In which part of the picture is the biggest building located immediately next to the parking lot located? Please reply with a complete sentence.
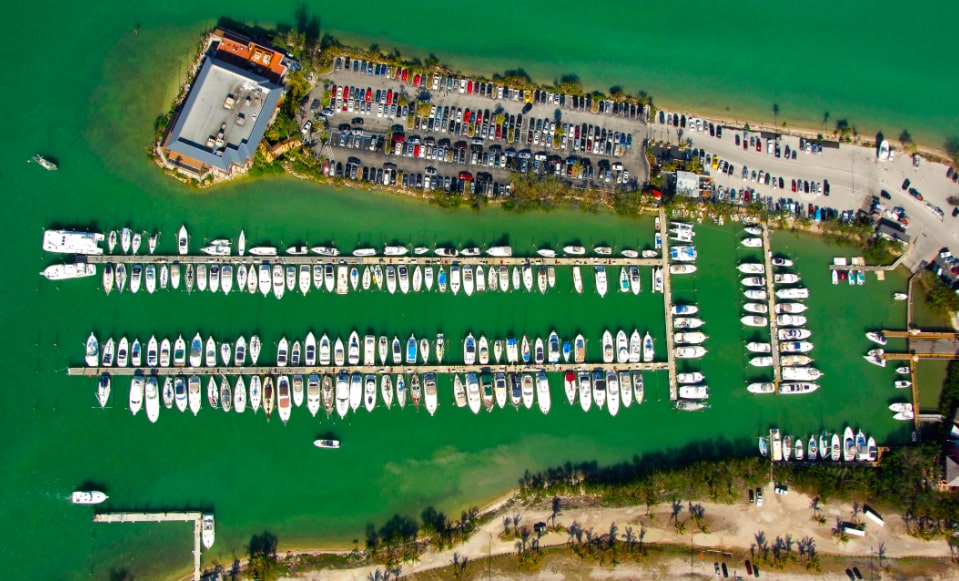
Look in the top left portion of the view to spot the biggest building located immediately next to the parking lot.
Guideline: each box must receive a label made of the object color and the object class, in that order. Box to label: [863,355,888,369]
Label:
white boat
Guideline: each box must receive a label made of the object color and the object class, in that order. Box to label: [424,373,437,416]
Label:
white boat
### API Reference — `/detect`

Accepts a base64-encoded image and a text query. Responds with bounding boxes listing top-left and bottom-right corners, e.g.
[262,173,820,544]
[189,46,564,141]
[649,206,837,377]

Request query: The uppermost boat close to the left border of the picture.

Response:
[33,154,58,171]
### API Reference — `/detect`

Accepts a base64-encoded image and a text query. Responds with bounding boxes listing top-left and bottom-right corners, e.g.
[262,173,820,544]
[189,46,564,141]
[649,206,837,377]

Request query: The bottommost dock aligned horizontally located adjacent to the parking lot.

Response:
[67,363,668,376]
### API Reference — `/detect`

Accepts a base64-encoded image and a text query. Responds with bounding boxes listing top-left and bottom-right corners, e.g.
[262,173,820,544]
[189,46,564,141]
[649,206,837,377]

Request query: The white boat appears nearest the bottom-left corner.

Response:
[71,492,107,505]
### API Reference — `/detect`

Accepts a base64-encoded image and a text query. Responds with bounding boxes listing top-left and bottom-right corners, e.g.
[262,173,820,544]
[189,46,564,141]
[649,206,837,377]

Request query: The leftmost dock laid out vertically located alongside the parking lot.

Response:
[658,206,677,400]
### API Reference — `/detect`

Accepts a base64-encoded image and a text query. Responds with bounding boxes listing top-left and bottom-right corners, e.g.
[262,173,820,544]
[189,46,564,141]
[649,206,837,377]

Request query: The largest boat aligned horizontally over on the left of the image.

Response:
[41,229,105,257]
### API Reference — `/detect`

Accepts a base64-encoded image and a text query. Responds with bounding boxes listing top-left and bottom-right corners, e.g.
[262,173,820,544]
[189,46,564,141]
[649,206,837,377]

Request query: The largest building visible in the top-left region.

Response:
[158,28,288,182]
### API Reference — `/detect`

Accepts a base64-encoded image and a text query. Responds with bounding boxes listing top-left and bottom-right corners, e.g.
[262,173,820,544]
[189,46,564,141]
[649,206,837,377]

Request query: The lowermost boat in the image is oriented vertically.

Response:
[199,513,214,549]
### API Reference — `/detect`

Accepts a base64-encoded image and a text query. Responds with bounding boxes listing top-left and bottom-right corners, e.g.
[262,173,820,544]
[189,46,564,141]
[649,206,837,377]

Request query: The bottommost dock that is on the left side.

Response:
[94,510,203,581]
